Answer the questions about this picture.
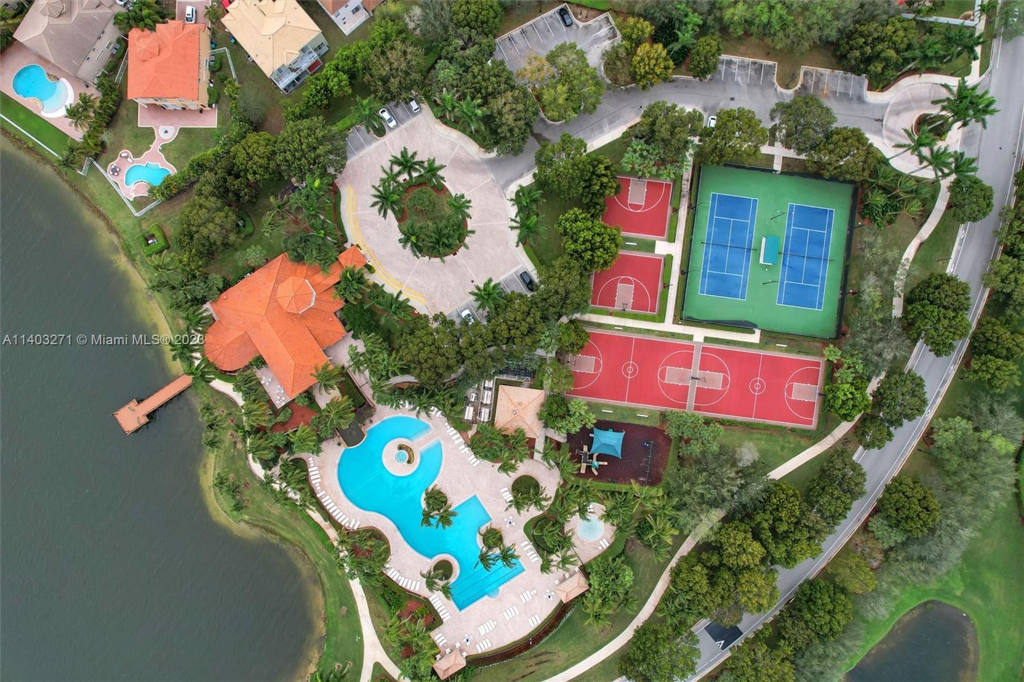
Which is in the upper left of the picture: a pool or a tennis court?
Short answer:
pool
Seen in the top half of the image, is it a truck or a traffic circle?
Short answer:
traffic circle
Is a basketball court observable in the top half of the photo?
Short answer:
Yes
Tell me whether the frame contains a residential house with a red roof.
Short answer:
Yes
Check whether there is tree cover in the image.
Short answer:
Yes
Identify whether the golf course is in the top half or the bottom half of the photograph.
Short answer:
bottom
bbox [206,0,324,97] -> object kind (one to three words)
house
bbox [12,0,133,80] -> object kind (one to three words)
house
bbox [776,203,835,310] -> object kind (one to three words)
tennis court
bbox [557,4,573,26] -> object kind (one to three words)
car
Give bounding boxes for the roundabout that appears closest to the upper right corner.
[866,69,993,186]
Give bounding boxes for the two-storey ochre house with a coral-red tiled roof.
[126,20,209,108]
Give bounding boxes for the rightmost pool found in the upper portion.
[124,160,173,200]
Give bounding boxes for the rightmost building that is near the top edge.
[318,0,383,35]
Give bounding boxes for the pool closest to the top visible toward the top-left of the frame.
[11,63,76,120]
